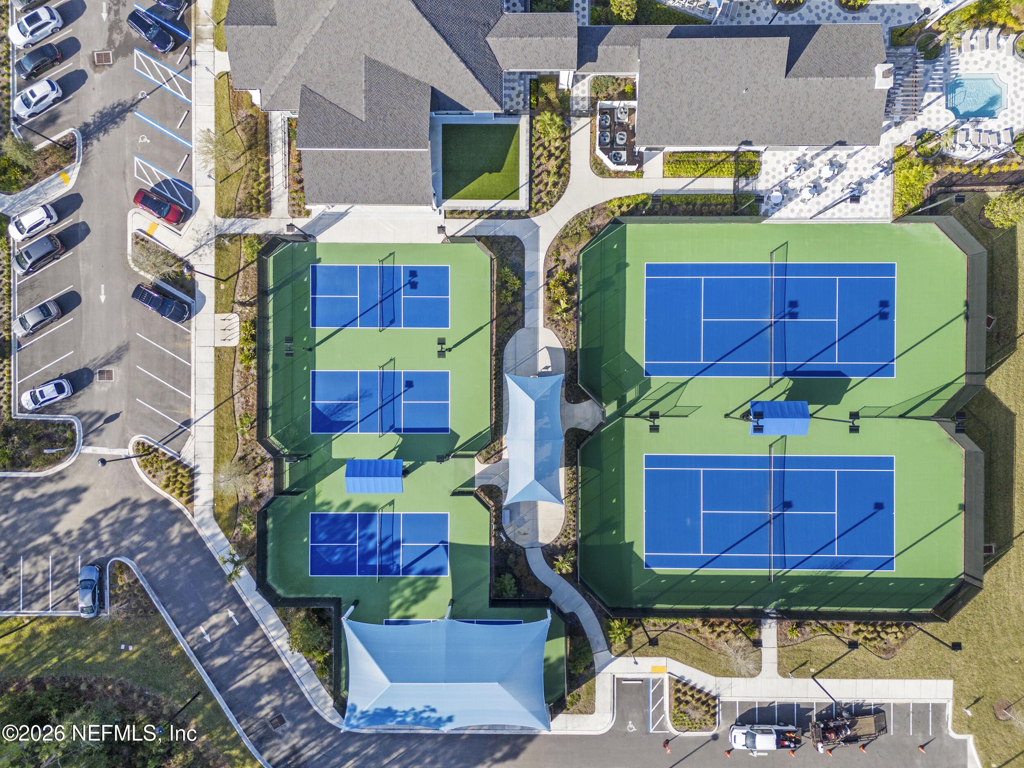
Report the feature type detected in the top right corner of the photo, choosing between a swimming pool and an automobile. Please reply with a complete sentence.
You can see a swimming pool in the top right corner of the photo.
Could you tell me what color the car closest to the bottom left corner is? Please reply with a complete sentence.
From above, the car closest to the bottom left corner appears blue.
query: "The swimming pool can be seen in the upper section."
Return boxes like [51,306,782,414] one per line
[943,69,1012,121]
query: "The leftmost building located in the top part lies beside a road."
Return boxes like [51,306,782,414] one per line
[224,0,504,215]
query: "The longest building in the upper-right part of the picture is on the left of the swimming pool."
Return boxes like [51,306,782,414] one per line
[635,24,892,156]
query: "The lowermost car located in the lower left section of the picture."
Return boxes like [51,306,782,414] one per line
[76,564,103,617]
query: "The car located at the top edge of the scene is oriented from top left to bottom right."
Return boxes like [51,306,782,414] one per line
[124,7,176,55]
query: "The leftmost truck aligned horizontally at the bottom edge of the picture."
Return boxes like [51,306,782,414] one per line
[730,722,804,755]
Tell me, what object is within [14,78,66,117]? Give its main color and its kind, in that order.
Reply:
white car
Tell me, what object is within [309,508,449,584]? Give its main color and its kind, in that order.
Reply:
blue sports court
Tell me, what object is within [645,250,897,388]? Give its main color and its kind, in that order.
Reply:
blue tennis court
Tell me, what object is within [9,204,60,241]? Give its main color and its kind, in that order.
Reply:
white car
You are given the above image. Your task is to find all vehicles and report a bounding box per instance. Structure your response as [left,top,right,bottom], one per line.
[5,0,51,15]
[76,564,103,617]
[129,283,191,325]
[9,204,60,241]
[132,187,186,227]
[14,78,66,117]
[730,722,804,755]
[20,379,75,410]
[151,0,187,16]
[124,7,176,55]
[13,299,65,336]
[10,6,64,48]
[15,42,65,80]
[12,233,67,274]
